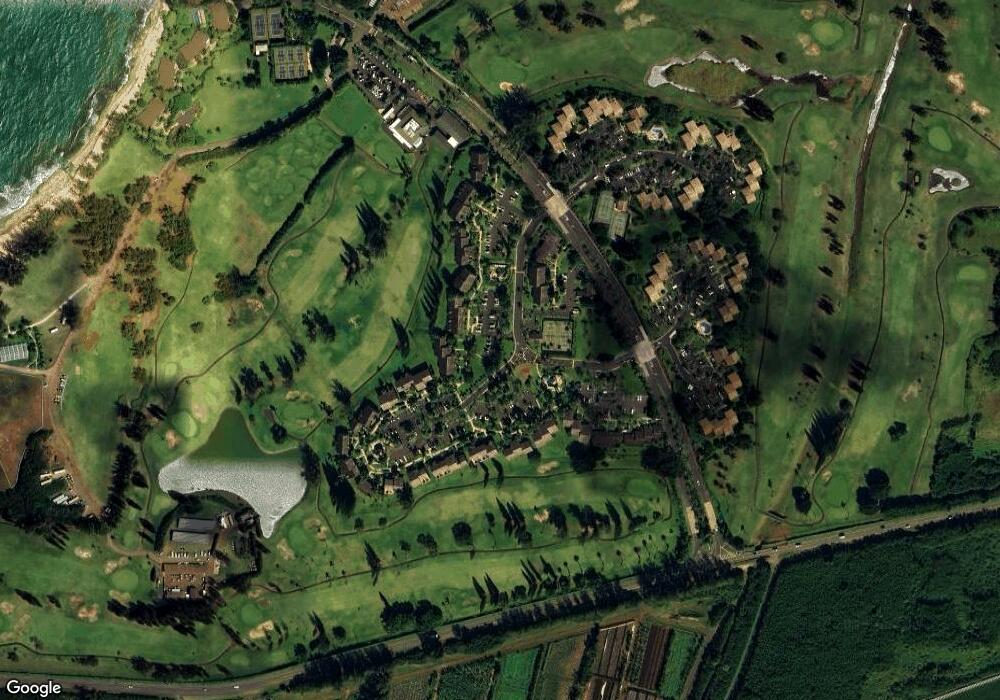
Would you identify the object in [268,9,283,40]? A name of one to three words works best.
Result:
tennis court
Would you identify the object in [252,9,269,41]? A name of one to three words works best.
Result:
tennis court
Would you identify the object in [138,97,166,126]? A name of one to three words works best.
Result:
house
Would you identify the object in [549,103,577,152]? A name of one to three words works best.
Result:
building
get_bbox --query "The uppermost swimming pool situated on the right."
[647,124,665,139]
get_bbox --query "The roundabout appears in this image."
[512,346,539,383]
